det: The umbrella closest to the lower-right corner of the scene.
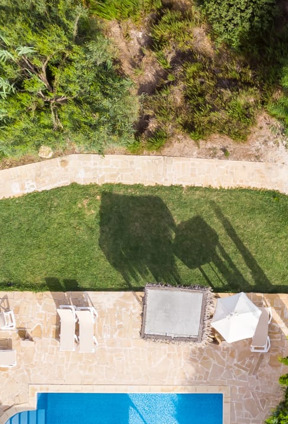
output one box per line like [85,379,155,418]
[215,292,266,344]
